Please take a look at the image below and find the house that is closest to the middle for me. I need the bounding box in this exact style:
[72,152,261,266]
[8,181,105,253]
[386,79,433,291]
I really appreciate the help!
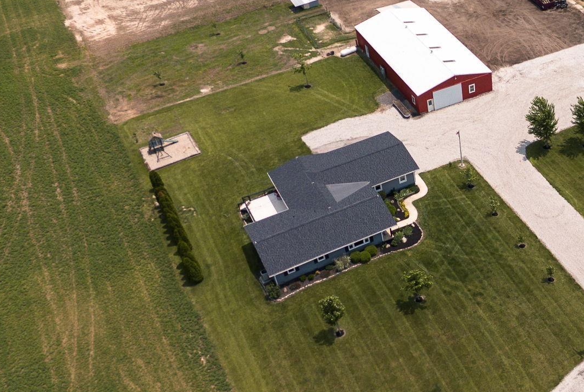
[243,132,419,285]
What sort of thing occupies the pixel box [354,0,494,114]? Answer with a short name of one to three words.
barn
